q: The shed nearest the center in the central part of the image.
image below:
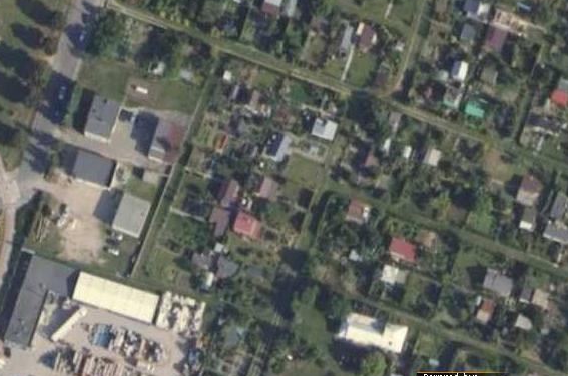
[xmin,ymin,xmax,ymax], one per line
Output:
[257,175,281,199]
